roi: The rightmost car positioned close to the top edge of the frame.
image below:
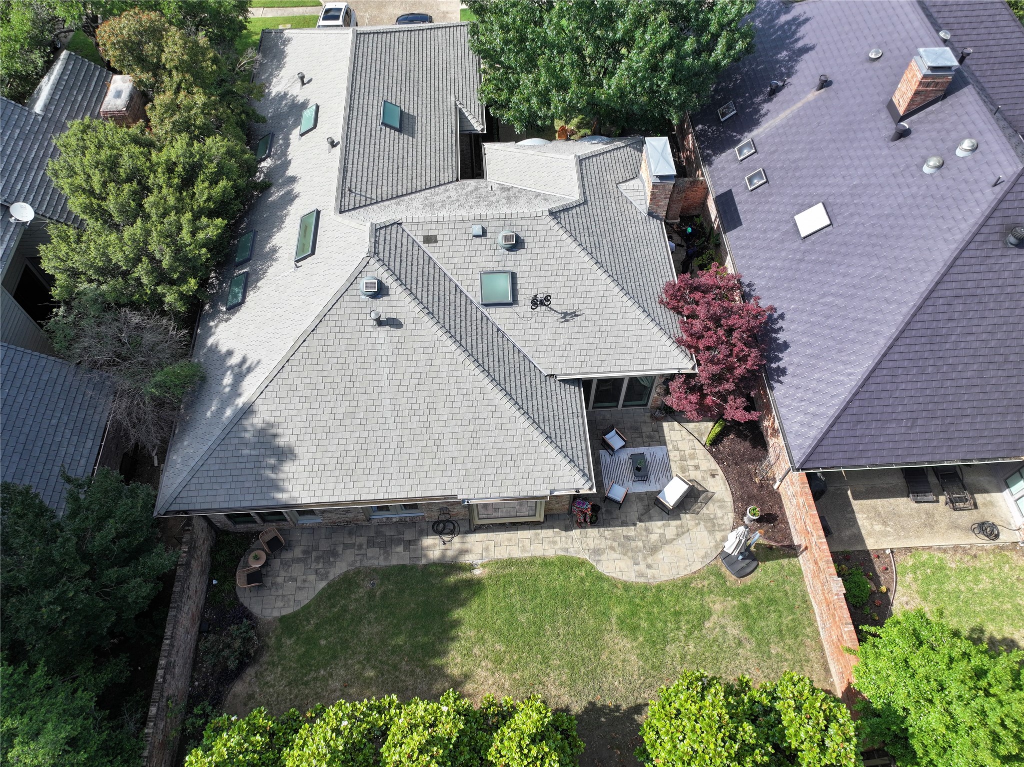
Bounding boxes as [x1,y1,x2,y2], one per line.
[400,7,435,29]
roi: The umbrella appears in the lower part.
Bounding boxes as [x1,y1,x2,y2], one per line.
[719,525,764,579]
